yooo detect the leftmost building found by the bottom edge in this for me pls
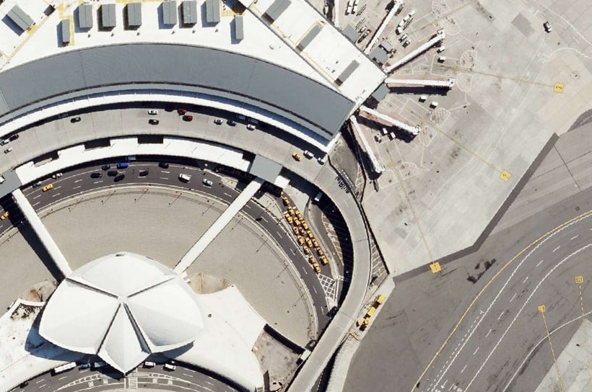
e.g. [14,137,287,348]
[0,252,265,392]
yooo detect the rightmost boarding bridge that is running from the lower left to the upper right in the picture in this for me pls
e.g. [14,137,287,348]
[383,29,448,73]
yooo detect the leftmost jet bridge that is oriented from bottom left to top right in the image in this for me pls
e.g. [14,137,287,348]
[363,0,403,55]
